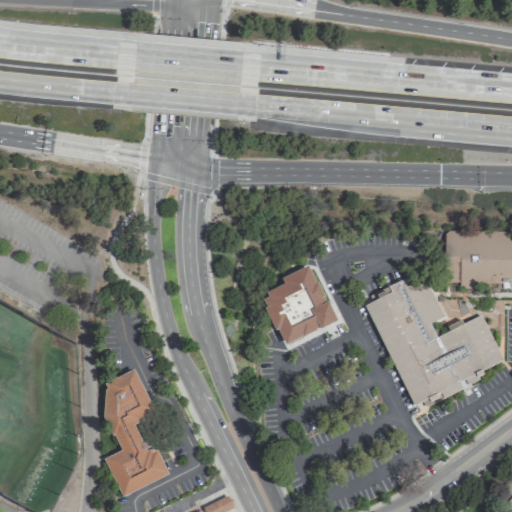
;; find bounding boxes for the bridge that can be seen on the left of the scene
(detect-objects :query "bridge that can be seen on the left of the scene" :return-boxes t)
[113,31,260,120]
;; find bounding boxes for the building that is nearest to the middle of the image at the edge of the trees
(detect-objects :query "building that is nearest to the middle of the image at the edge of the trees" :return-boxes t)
[266,266,339,344]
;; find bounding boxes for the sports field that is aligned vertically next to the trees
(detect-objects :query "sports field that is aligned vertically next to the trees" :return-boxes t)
[0,302,80,512]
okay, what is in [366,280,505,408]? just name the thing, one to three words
building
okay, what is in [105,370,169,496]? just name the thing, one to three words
building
